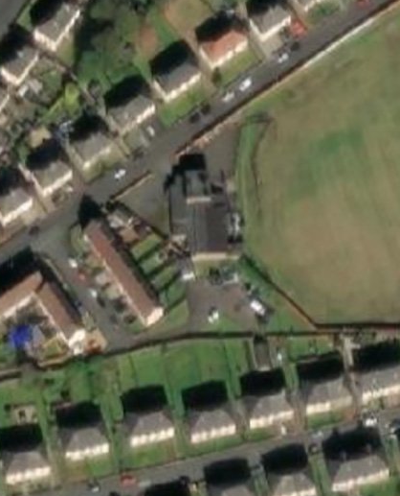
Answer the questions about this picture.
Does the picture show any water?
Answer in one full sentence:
No, no water is visible.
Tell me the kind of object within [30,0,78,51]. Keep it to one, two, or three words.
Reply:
house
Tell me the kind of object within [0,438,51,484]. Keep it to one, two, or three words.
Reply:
house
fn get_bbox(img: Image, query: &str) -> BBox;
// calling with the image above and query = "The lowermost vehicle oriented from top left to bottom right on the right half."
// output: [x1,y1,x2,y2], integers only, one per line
[249,301,266,316]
